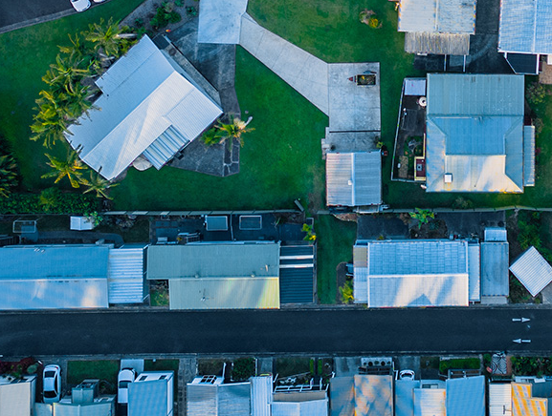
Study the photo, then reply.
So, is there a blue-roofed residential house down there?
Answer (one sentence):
Yes, a blue-roofed residential house can be made out from above.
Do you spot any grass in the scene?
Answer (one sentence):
Yes, grass can be seen from above here.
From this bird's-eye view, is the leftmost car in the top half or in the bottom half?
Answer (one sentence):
The bottom half of the photo is where the leftmost car is.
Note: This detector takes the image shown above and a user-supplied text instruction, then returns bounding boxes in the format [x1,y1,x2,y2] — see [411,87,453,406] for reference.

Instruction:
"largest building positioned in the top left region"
[64,33,225,181]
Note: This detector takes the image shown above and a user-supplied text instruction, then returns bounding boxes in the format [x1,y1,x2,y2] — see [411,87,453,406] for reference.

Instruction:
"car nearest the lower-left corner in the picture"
[39,363,63,402]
